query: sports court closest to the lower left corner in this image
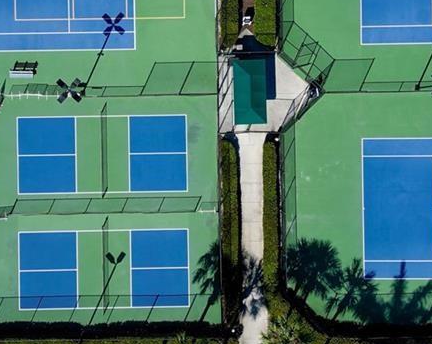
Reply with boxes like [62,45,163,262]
[19,229,190,310]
